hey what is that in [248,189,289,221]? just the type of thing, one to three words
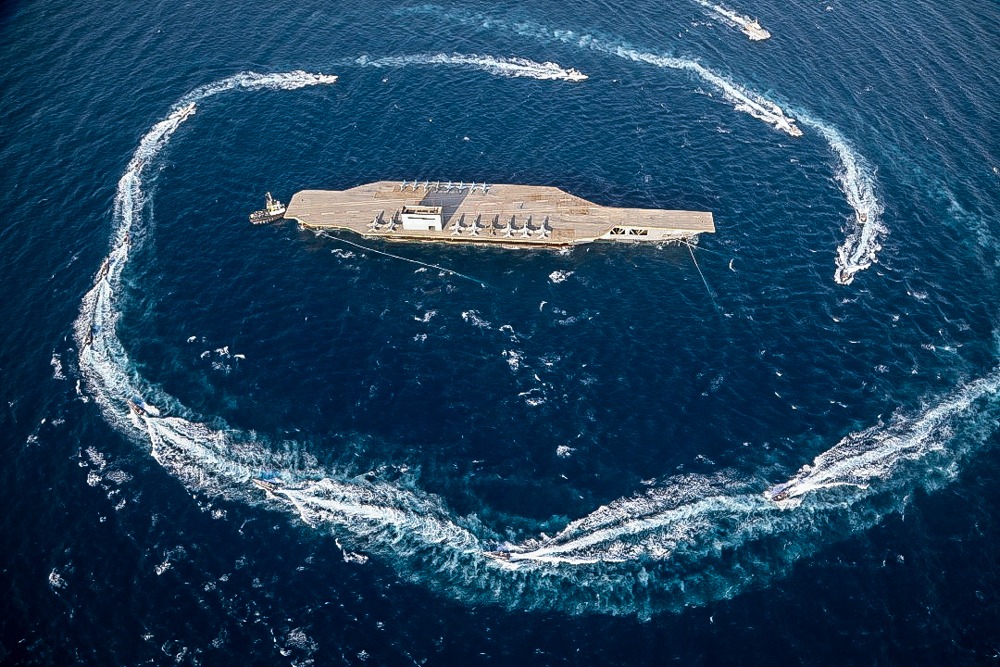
boat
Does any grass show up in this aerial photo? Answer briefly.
No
